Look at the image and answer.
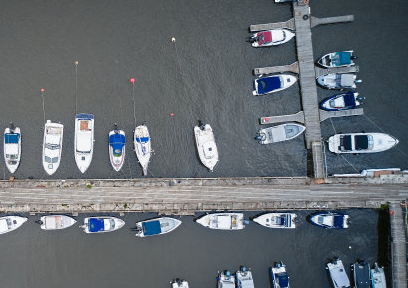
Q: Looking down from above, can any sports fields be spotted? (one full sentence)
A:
No, there isn't any sports field down there.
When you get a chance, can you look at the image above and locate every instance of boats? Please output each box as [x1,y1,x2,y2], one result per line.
[192,121,217,179]
[79,214,125,233]
[36,213,78,230]
[351,257,370,288]
[326,112,407,161]
[171,276,189,288]
[42,92,63,178]
[73,66,94,182]
[131,215,182,238]
[370,262,386,288]
[234,267,254,288]
[271,263,289,288]
[254,124,306,145]
[316,72,360,90]
[323,257,349,288]
[252,73,299,96]
[0,215,28,234]
[317,51,358,67]
[309,210,352,229]
[253,212,300,228]
[195,211,250,230]
[247,29,296,48]
[109,127,125,180]
[217,270,235,288]
[3,124,22,182]
[133,83,152,182]
[319,90,363,111]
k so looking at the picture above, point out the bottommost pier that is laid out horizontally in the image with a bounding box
[0,177,408,217]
